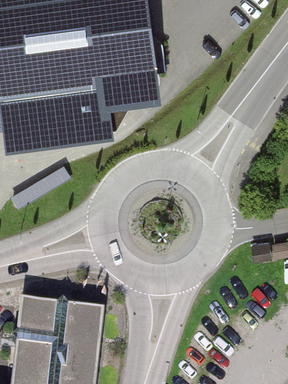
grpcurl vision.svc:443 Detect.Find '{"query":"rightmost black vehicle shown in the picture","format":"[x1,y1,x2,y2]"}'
[258,280,278,299]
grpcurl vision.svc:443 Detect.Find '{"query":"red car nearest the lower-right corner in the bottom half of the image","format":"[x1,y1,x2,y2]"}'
[208,348,230,366]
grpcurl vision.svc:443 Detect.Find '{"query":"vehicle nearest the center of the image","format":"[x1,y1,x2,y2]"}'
[109,241,122,264]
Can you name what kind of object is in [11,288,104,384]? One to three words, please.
building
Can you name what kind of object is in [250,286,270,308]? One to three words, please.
car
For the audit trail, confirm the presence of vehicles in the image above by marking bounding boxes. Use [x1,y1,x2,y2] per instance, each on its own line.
[200,314,219,336]
[229,8,249,30]
[220,284,236,308]
[240,0,261,19]
[208,348,230,366]
[7,262,28,272]
[197,372,216,384]
[210,300,228,322]
[240,310,259,328]
[212,334,234,355]
[250,286,270,308]
[178,358,197,378]
[258,280,278,299]
[254,0,268,8]
[194,330,213,352]
[245,298,266,318]
[186,345,204,364]
[109,241,122,264]
[205,360,226,379]
[230,275,248,298]
[202,38,220,57]
[221,324,242,344]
